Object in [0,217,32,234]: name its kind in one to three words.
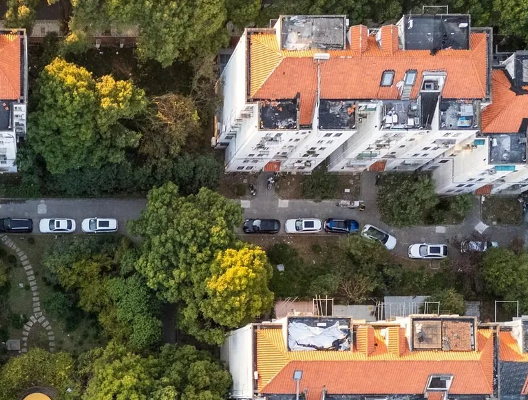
car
